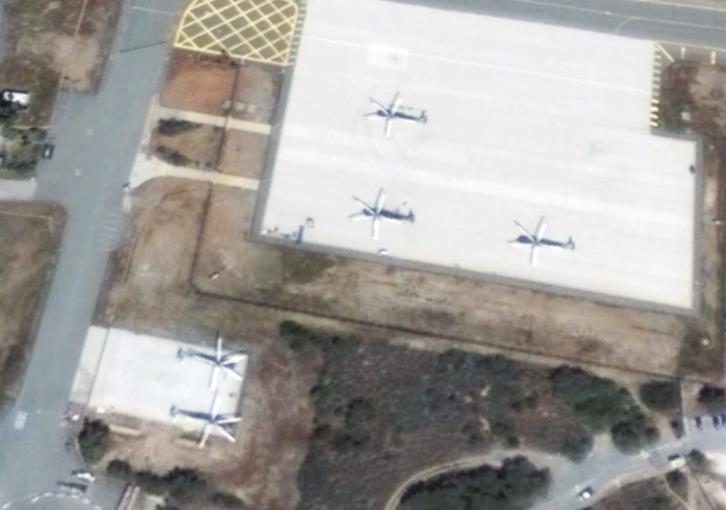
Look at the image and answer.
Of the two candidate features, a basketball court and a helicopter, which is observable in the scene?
helicopter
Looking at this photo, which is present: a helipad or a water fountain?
helipad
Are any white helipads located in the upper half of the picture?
No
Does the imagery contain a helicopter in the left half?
Yes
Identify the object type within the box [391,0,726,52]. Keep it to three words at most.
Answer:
runway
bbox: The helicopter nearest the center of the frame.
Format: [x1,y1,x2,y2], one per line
[352,192,412,238]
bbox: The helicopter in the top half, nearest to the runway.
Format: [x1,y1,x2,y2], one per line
[368,92,428,138]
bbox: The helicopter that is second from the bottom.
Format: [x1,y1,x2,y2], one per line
[177,334,247,391]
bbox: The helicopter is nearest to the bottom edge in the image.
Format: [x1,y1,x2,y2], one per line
[170,393,240,448]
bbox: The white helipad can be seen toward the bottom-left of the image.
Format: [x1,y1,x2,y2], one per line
[70,326,250,433]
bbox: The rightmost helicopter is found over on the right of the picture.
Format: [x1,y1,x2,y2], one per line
[512,220,571,267]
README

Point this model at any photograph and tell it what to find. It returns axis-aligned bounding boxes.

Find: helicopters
[512,220,571,267]
[177,334,247,391]
[368,92,428,138]
[352,192,412,238]
[170,393,240,448]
